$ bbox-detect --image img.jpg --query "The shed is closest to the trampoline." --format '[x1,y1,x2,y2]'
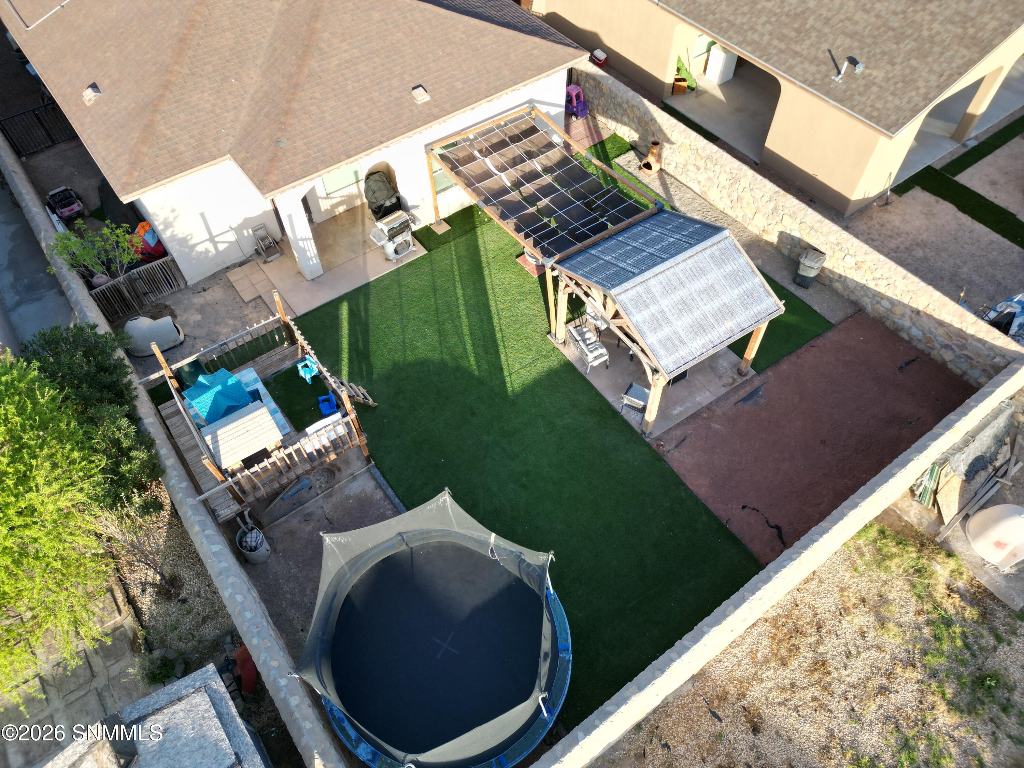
[49,658,301,768]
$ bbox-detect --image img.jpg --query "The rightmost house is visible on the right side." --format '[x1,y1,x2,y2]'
[511,0,1024,216]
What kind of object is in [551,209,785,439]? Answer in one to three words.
gazebo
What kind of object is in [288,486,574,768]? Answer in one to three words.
trampoline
